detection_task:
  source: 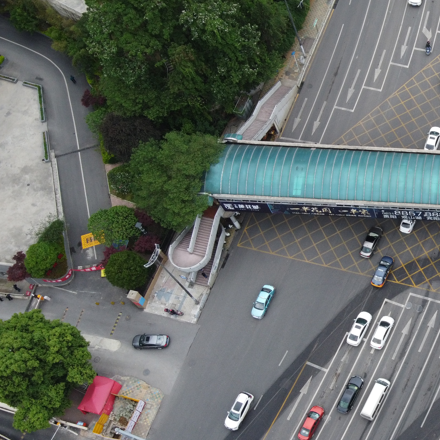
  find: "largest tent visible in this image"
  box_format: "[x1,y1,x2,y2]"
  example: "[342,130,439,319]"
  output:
[77,375,129,419]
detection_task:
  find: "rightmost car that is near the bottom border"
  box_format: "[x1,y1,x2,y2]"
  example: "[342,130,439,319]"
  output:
[359,376,390,422]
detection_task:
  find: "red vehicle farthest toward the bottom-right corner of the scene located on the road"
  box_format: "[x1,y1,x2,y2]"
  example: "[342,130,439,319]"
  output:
[297,404,324,440]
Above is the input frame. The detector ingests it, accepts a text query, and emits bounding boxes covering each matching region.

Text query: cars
[252,284,275,319]
[425,126,440,149]
[347,312,372,347]
[359,376,390,422]
[401,221,417,235]
[359,226,382,259]
[372,256,393,287]
[370,315,394,351]
[131,333,170,350]
[297,404,324,440]
[225,390,252,430]
[337,375,364,413]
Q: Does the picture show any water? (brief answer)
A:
No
